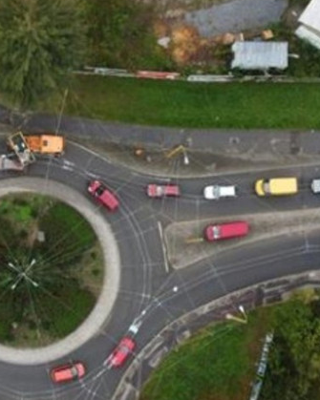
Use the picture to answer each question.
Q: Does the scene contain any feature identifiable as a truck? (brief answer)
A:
Yes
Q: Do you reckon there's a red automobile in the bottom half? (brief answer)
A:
Yes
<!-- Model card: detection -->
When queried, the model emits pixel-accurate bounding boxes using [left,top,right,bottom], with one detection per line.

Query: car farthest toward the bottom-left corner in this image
[50,362,86,382]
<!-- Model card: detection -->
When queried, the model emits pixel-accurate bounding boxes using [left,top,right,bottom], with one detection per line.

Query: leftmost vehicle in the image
[0,157,26,172]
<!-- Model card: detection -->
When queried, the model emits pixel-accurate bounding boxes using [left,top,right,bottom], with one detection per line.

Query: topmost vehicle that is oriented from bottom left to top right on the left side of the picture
[108,335,135,369]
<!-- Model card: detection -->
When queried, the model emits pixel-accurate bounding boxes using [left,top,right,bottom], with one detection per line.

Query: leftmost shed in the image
[226,41,288,74]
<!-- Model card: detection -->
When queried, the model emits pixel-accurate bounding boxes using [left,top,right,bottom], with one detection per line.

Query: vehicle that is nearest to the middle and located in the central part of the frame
[148,182,180,198]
